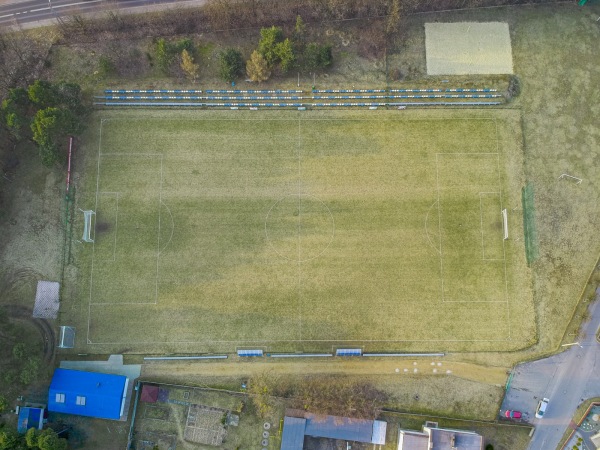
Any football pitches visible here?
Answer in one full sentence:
Yes, a football pitch appears in the view.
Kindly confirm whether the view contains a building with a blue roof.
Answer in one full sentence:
Yes, there is a building with a blue roof in the image.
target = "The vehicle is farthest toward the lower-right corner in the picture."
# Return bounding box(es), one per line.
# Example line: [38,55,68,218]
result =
[534,398,549,418]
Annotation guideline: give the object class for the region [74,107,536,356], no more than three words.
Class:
soccer field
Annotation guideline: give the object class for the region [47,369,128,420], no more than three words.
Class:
building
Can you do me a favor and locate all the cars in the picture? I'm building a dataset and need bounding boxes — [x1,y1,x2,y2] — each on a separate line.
[504,409,522,418]
[534,398,549,418]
